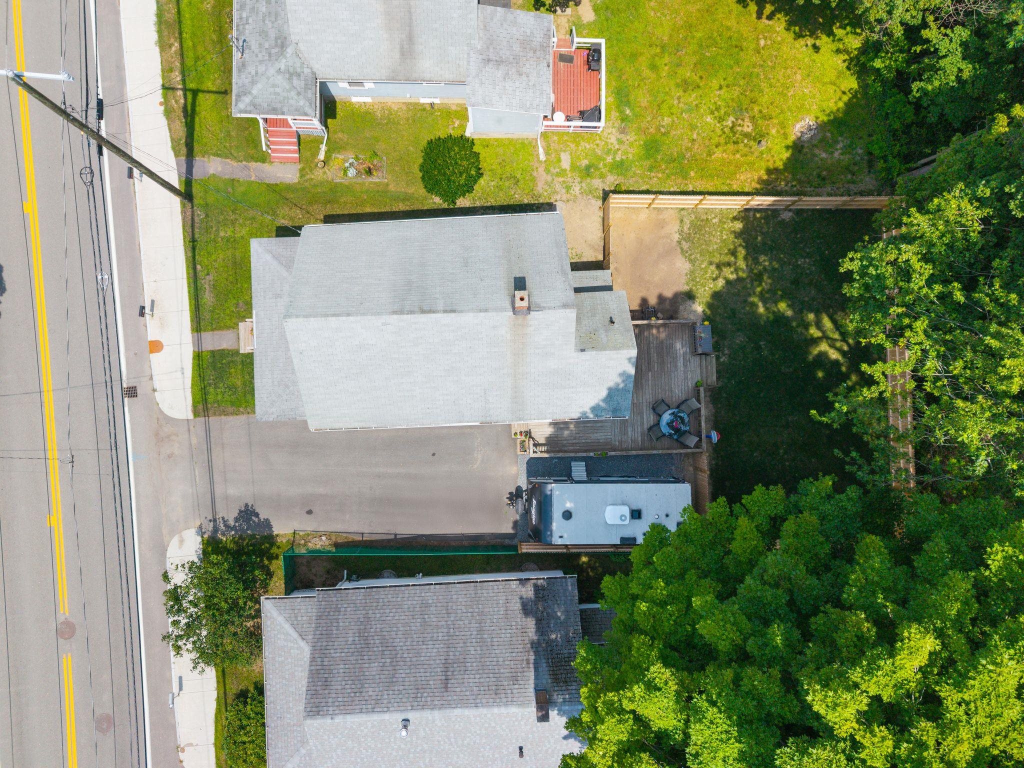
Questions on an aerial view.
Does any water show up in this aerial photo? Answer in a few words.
No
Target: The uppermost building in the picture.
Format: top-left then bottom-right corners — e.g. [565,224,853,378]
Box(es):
[218,0,554,159]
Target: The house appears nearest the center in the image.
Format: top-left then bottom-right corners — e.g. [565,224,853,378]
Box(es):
[249,210,636,433]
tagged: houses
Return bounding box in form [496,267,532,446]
[261,570,630,768]
[249,210,636,433]
[218,0,554,159]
